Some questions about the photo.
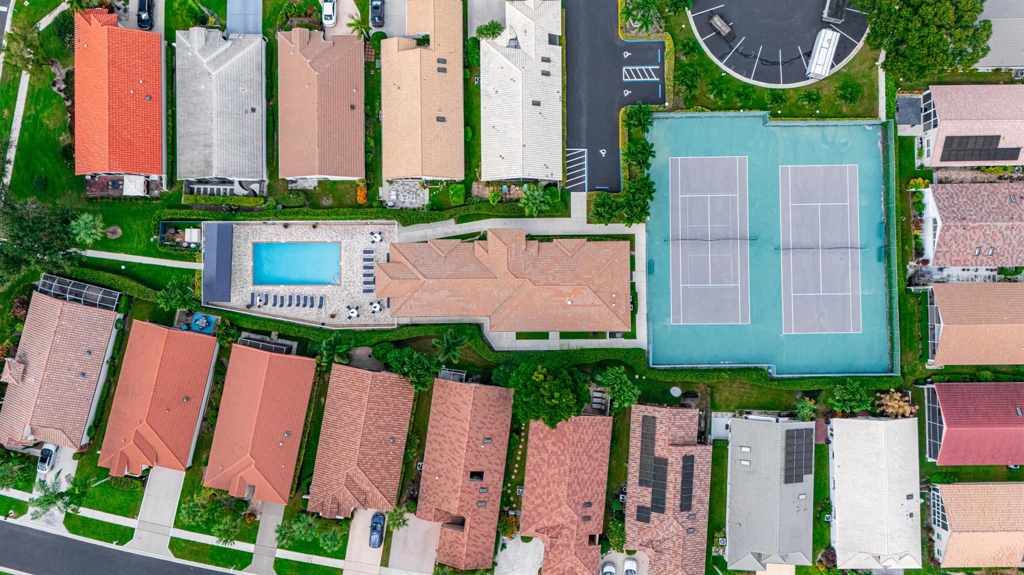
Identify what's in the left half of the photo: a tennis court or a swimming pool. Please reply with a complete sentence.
Looking in the left half of the photo, you will find a swimming pool.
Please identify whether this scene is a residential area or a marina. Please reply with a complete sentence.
What you see here is a residential area.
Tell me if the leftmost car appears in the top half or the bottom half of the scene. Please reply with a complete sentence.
The bottom half of the photo is where the leftmost car is.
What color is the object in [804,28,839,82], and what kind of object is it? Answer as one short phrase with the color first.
white trailer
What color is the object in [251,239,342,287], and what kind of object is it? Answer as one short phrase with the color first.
blue swimming pool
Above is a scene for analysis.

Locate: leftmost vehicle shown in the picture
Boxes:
[37,442,59,474]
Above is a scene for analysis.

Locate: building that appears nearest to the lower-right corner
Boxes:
[934,482,1024,569]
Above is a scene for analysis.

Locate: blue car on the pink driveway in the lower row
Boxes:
[369,512,386,548]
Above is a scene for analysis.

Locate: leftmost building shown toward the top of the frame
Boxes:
[74,8,168,176]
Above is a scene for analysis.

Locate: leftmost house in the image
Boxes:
[0,291,120,450]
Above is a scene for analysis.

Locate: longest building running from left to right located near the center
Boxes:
[375,228,630,332]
